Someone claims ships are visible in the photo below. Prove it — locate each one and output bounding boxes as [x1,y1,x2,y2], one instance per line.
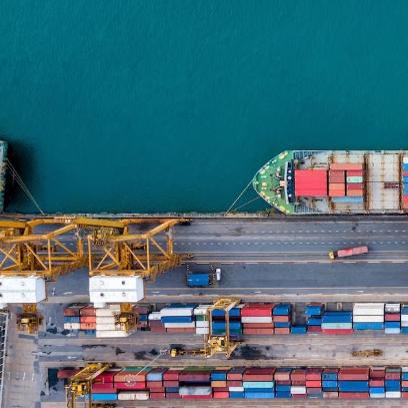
[0,142,10,210]
[252,149,408,216]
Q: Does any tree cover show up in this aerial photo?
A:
No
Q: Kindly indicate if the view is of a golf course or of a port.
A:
port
